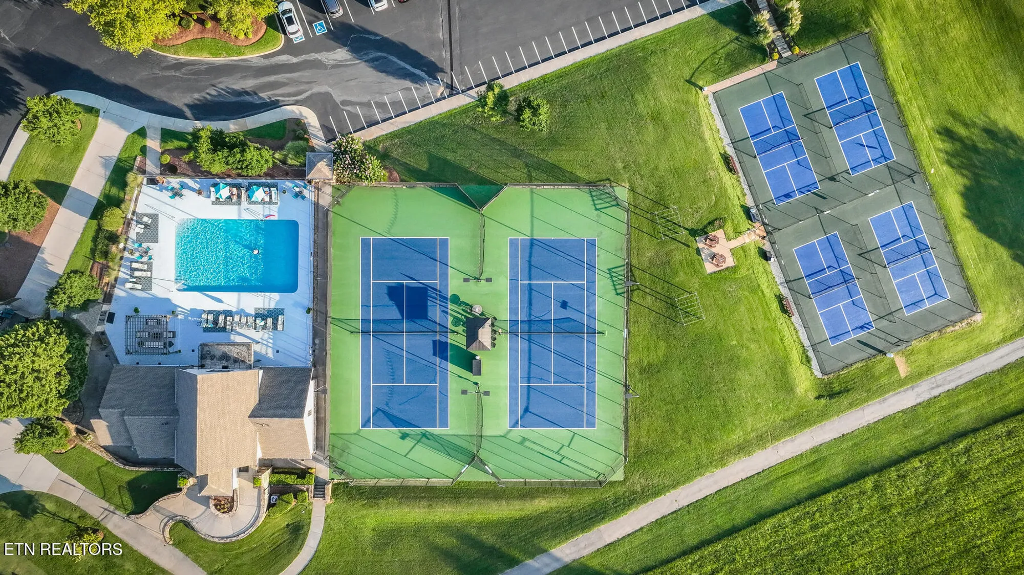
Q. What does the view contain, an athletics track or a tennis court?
tennis court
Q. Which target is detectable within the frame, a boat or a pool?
pool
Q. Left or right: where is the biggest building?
left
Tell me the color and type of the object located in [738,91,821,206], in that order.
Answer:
blue sports court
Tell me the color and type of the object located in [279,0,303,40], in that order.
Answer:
white car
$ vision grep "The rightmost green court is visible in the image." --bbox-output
[479,186,627,480]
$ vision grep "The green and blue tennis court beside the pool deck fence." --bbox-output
[330,185,479,480]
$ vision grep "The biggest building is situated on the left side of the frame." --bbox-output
[90,364,319,497]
